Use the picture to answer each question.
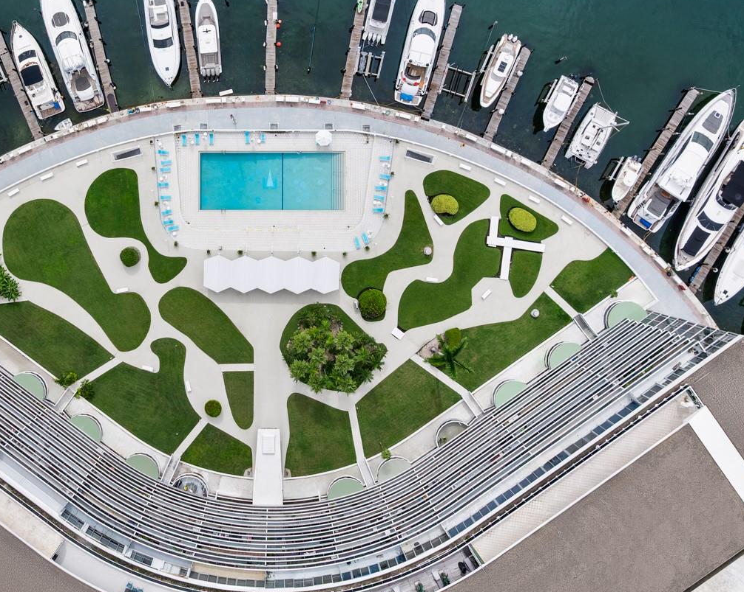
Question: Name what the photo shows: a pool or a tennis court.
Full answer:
This aerial view contains a pool.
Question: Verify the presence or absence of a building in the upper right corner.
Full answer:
No, no building can be made out in the upper right corner.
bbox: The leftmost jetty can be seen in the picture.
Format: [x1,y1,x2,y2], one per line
[0,29,46,138]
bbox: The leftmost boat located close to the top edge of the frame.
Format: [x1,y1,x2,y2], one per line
[9,16,68,121]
